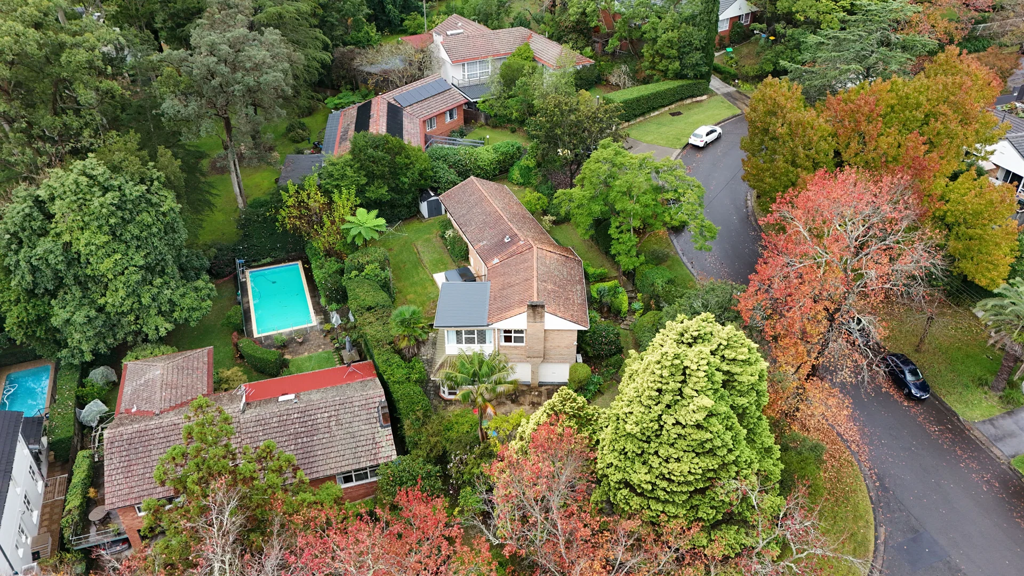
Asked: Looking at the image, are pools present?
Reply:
Yes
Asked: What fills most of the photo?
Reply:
trees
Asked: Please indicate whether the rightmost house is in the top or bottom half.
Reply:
top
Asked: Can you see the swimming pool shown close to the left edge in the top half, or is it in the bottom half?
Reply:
bottom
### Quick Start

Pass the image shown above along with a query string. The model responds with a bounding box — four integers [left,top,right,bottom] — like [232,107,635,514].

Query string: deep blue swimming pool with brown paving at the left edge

[0,354,64,428]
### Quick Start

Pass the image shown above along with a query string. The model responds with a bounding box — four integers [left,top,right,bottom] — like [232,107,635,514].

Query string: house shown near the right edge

[975,99,1024,199]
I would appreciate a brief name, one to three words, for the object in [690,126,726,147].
car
